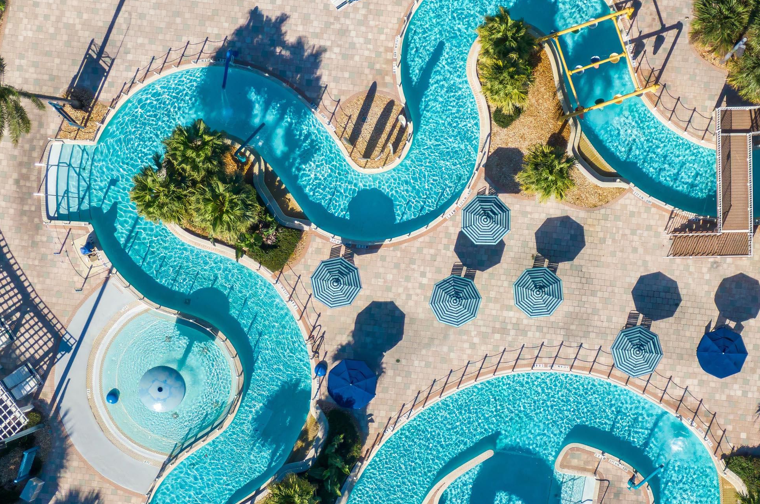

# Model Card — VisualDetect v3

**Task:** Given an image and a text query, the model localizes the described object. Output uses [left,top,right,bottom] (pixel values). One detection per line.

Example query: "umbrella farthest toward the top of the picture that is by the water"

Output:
[458,193,512,246]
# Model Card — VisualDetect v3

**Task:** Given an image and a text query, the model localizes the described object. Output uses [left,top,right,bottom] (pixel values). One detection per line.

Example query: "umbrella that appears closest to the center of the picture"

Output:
[308,255,361,308]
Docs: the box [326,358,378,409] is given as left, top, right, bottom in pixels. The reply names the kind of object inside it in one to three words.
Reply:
umbrella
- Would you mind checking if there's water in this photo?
Yes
